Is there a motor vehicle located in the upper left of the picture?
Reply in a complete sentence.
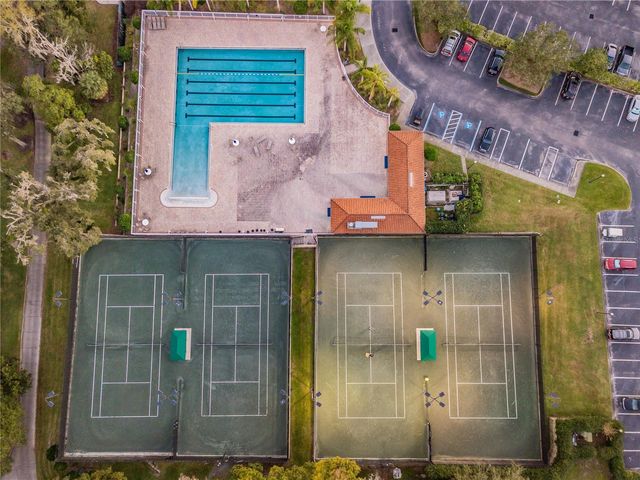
No, I can find no motor vehicle in the upper left of the picture.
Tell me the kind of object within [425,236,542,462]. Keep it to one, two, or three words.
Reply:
tennis court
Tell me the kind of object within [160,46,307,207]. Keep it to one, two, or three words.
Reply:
swimming pool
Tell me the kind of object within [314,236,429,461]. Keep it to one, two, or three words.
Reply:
tennis court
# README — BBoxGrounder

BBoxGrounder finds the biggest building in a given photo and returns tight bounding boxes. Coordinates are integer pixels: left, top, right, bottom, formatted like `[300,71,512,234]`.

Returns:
[329,131,426,234]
